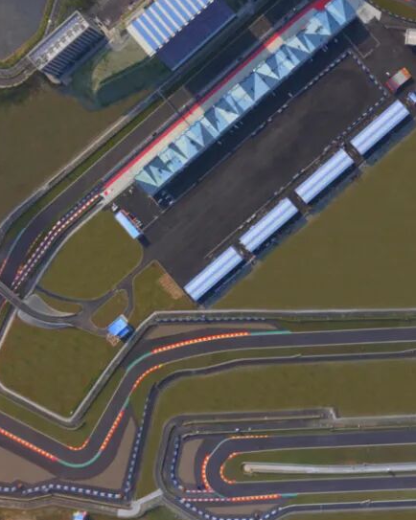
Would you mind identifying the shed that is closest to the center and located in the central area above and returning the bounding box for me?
[186,246,242,302]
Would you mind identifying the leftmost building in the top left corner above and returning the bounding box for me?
[28,10,112,92]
